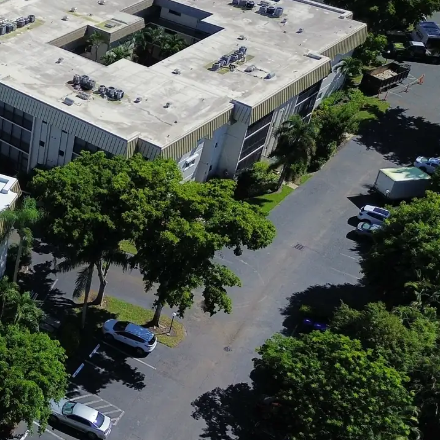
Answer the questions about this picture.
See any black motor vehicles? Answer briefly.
Yes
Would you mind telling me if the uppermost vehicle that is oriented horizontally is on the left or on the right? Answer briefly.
right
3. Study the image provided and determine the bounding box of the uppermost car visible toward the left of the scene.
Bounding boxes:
[97,317,158,351]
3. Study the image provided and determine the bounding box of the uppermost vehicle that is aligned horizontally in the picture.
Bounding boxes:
[389,43,440,62]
